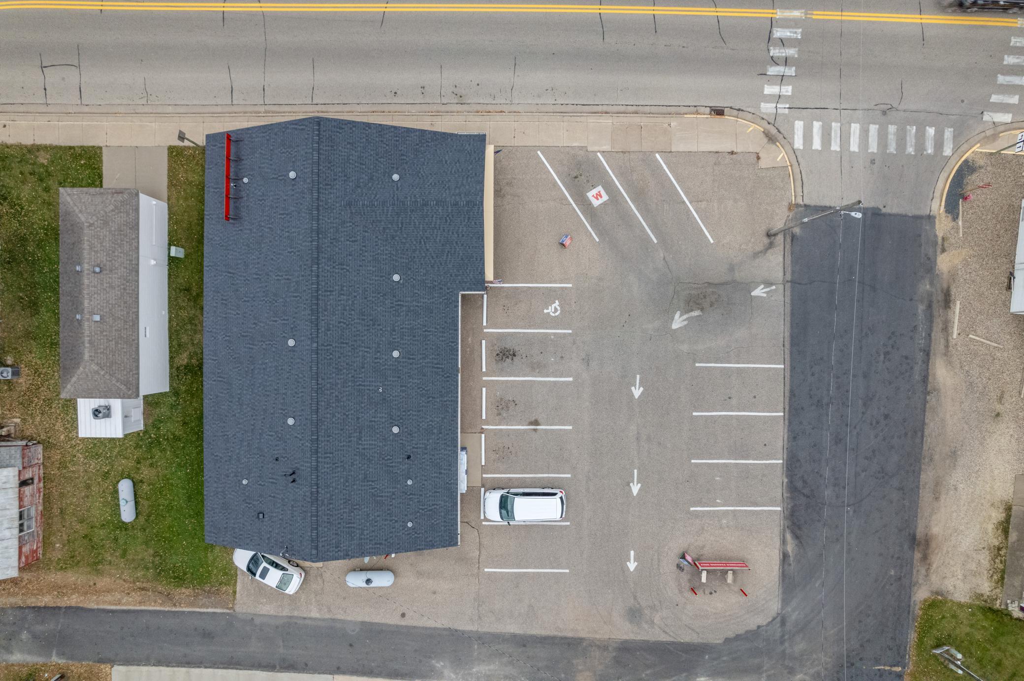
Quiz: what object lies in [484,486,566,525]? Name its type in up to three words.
car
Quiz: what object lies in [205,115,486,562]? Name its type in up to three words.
building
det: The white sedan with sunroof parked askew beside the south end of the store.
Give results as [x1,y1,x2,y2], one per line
[235,550,306,599]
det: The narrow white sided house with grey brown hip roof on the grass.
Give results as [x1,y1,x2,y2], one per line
[58,187,168,399]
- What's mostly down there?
paved ground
